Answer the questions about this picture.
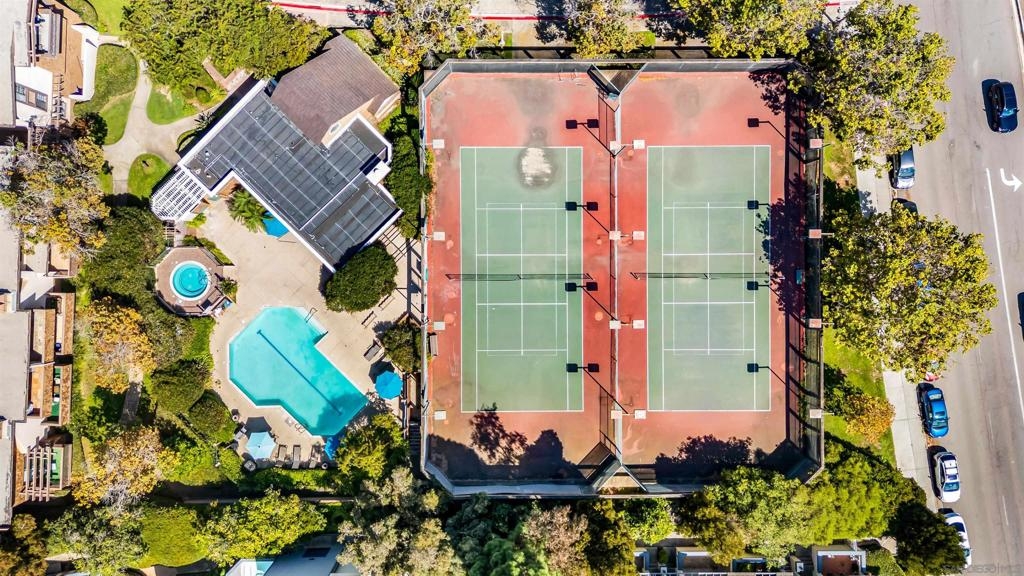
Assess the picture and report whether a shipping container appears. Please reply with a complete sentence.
No, there appears to be no shipping container in this shot.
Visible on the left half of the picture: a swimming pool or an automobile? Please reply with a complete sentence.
The one visible on the left half of the picture is a swimming pool.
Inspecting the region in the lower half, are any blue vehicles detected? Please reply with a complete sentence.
Yes, a blue vehicle shows up in the lower half.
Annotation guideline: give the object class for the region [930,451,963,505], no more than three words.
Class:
car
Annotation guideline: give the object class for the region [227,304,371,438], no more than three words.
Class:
swimming pool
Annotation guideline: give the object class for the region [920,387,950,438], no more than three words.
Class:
car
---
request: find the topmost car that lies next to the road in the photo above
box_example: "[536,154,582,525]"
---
[986,80,1018,134]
